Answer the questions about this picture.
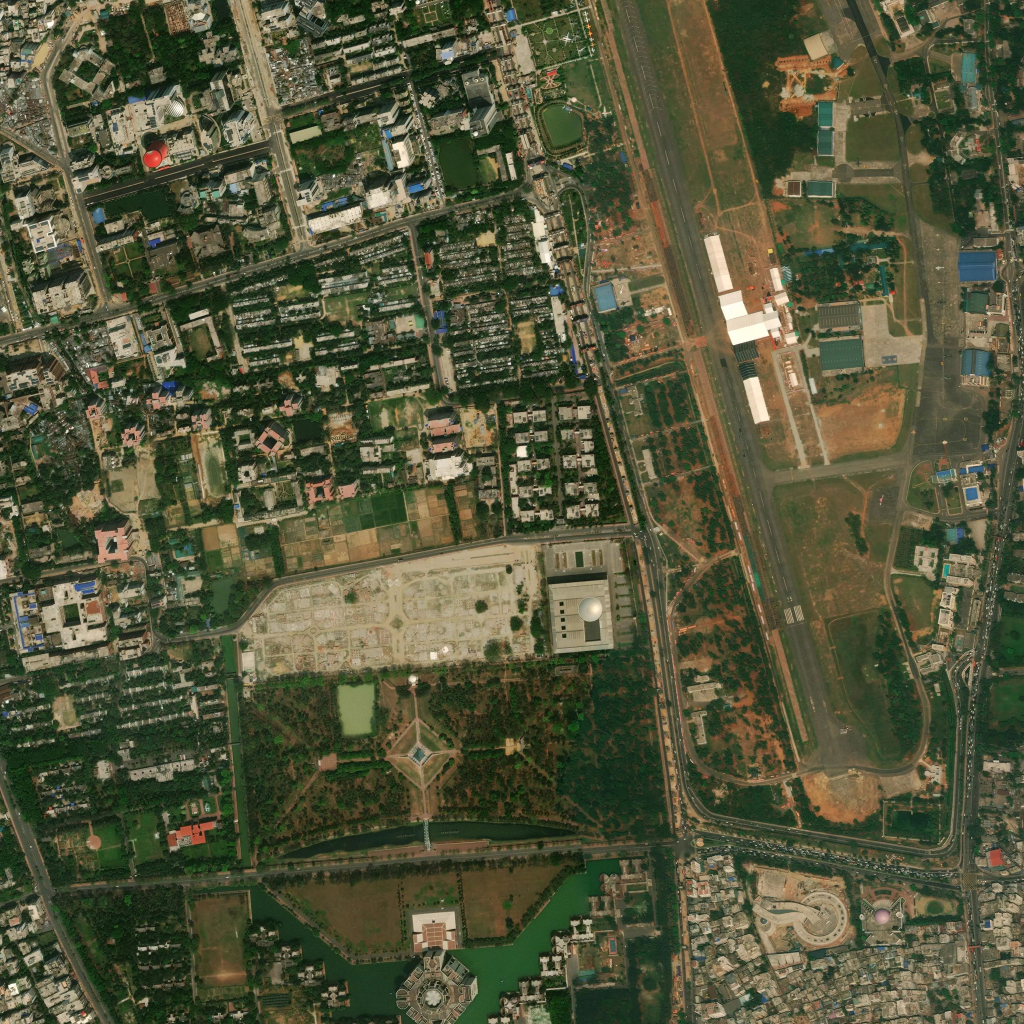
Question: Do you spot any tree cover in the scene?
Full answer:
Yes, there's tree cover in this view.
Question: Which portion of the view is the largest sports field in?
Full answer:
The largest sports field is located in the bottom left region of the scene.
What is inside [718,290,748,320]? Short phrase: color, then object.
white tent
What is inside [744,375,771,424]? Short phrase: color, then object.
white tent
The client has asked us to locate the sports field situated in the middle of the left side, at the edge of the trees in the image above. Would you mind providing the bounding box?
[199,432,225,496]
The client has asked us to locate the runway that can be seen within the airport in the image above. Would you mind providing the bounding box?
[613,0,843,760]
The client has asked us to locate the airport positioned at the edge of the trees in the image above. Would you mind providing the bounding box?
[613,0,985,783]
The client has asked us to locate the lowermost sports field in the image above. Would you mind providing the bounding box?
[195,895,247,987]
